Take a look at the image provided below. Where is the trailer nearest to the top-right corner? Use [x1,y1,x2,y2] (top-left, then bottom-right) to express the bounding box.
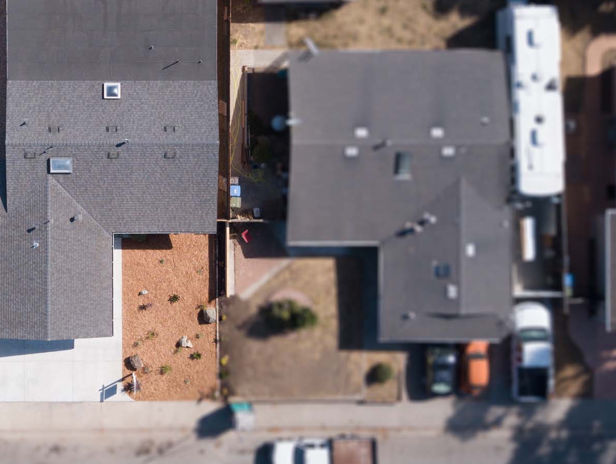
[502,6,560,209]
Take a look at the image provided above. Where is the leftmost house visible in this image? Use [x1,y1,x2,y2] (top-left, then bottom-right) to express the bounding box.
[0,0,219,340]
